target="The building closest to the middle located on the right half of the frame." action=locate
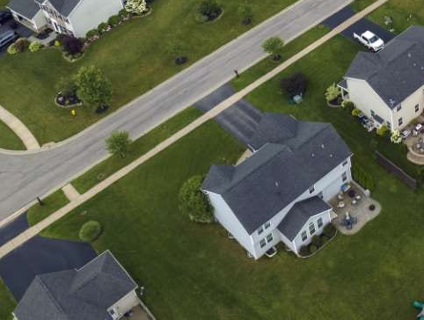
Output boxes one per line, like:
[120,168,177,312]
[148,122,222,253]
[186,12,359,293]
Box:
[196,102,355,260]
